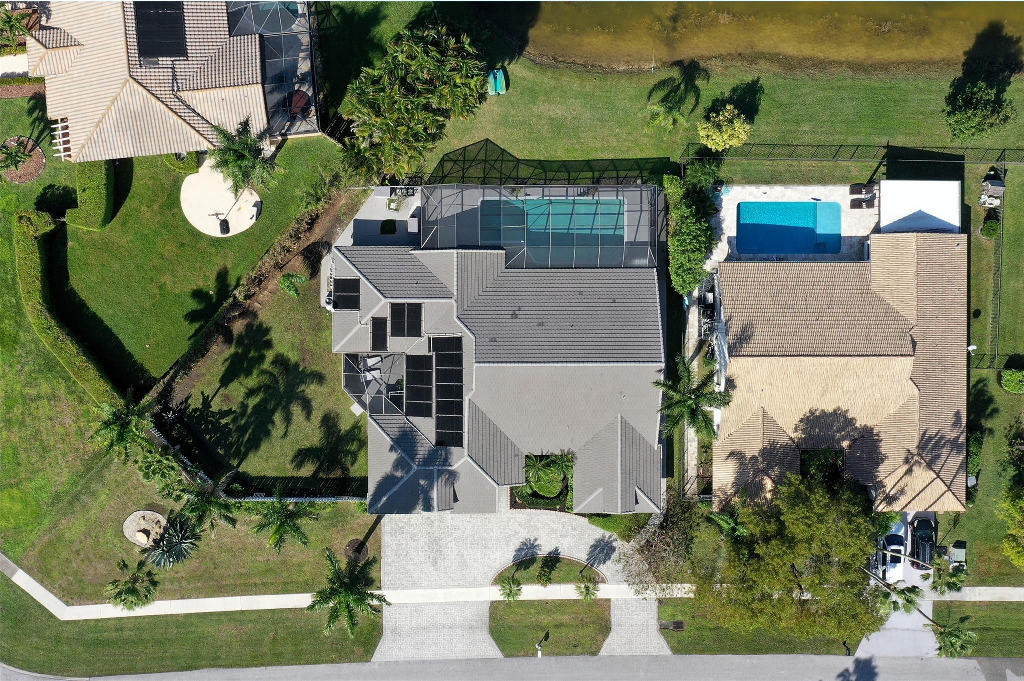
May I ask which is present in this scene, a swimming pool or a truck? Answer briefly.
swimming pool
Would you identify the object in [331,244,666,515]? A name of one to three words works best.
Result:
house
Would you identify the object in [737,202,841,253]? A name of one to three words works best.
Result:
swimming pool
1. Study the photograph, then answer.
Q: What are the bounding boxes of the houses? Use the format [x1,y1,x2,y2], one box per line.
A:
[26,0,276,162]
[331,244,666,515]
[710,232,969,512]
